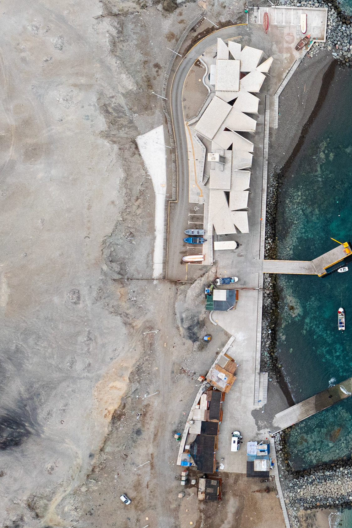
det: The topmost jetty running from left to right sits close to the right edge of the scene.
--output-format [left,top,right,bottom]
[263,241,352,278]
